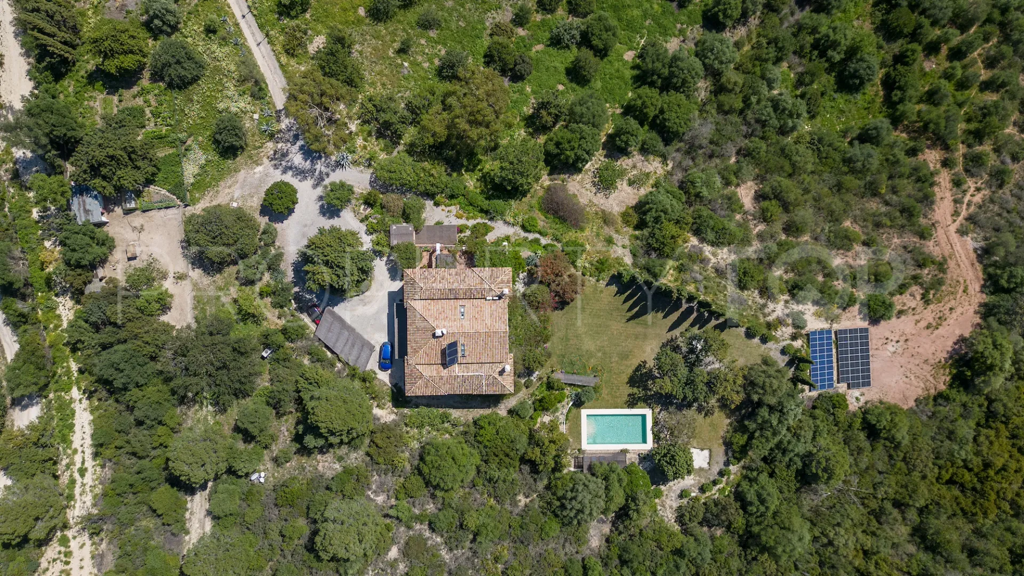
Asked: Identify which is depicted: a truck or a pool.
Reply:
pool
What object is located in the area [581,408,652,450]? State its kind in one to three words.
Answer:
swimming pool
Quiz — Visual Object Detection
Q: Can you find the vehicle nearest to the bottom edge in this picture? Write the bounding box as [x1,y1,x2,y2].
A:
[378,341,394,371]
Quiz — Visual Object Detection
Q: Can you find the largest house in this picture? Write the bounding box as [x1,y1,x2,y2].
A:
[394,267,515,396]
